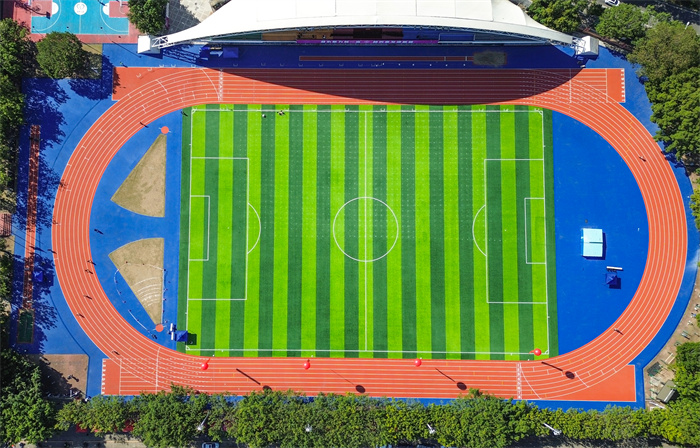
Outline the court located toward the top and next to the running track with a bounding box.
[12,0,140,43]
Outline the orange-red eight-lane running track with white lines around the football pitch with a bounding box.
[53,67,688,401]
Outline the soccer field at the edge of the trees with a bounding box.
[176,103,558,360]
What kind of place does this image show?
sports ground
